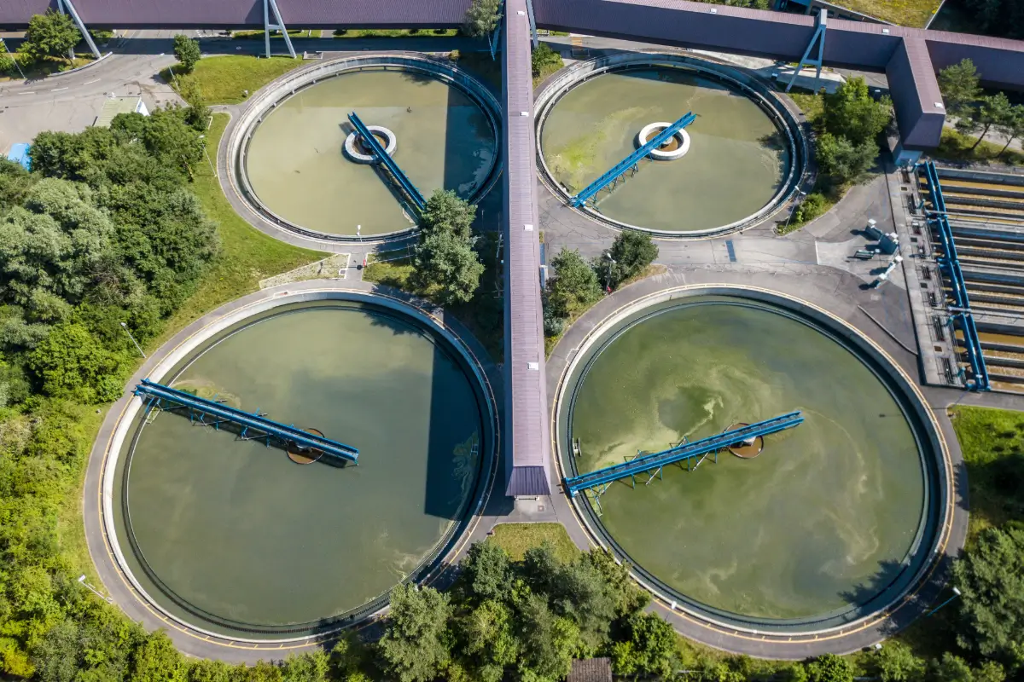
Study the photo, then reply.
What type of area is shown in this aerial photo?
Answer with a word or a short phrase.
industrial area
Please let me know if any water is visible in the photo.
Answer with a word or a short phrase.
Yes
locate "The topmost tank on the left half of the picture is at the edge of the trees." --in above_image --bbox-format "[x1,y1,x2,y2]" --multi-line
[226,52,502,244]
